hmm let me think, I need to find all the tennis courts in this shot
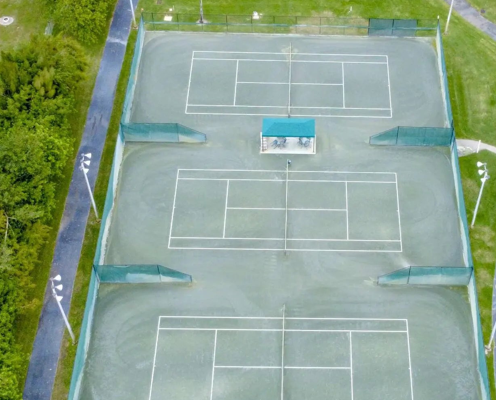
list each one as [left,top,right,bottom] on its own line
[103,140,464,284]
[78,280,482,400]
[128,30,447,145]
